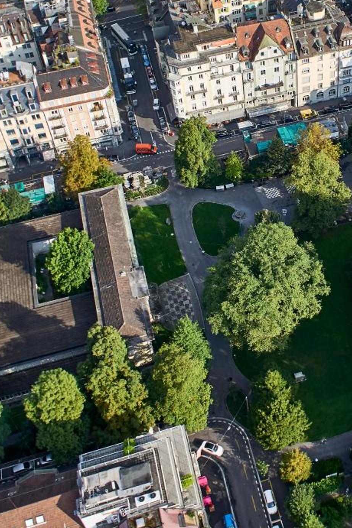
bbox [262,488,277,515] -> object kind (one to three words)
car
